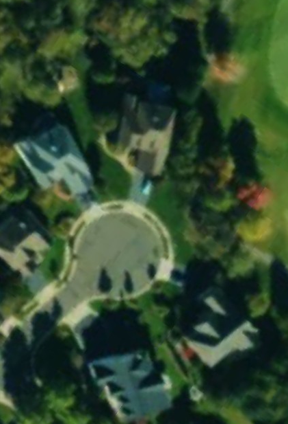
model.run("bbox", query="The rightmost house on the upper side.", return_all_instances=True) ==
[116,81,178,180]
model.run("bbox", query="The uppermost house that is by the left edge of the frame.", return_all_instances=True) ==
[12,120,97,199]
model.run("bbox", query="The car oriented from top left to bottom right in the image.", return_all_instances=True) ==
[170,268,185,282]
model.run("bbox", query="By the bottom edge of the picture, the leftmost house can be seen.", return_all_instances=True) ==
[85,349,177,423]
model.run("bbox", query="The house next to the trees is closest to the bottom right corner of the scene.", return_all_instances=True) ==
[186,287,258,368]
